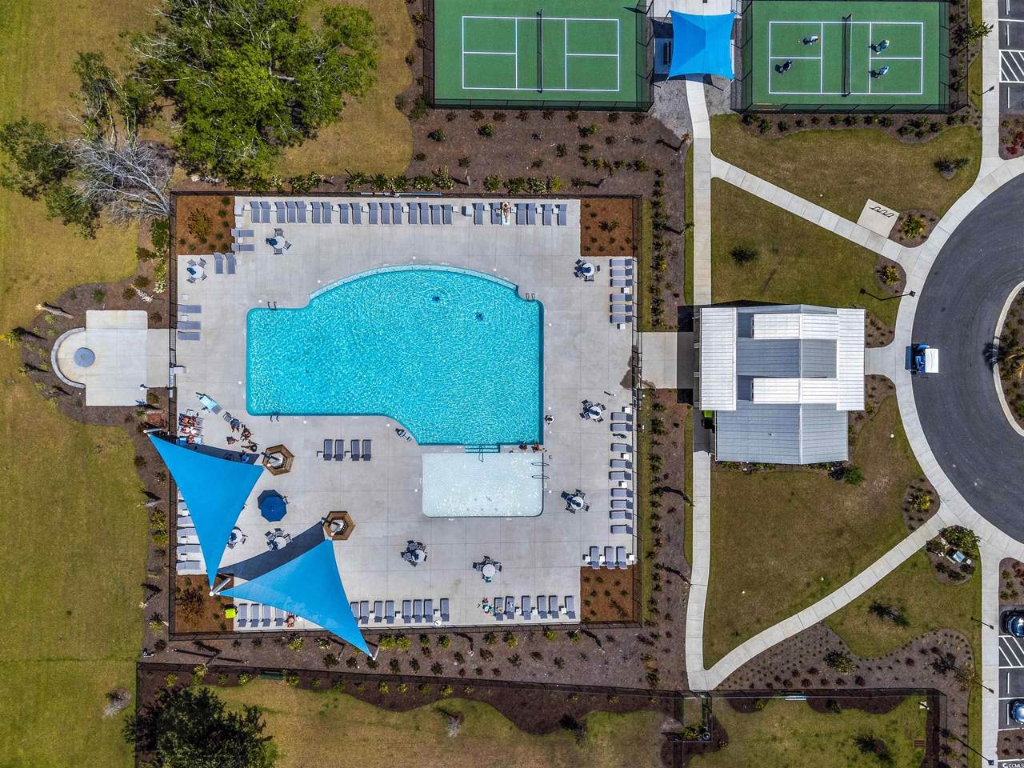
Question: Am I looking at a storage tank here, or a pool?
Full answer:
It is a pool that can be seen here.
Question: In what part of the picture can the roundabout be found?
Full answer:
The roundabout is located in the right region of the scene.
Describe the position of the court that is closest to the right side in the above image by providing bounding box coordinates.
[744,1,951,113]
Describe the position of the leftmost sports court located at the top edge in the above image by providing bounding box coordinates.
[434,0,647,110]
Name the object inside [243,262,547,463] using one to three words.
swimming pool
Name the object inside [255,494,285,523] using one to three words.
umbrella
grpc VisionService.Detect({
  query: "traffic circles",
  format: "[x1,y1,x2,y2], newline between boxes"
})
[912,172,1024,540]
